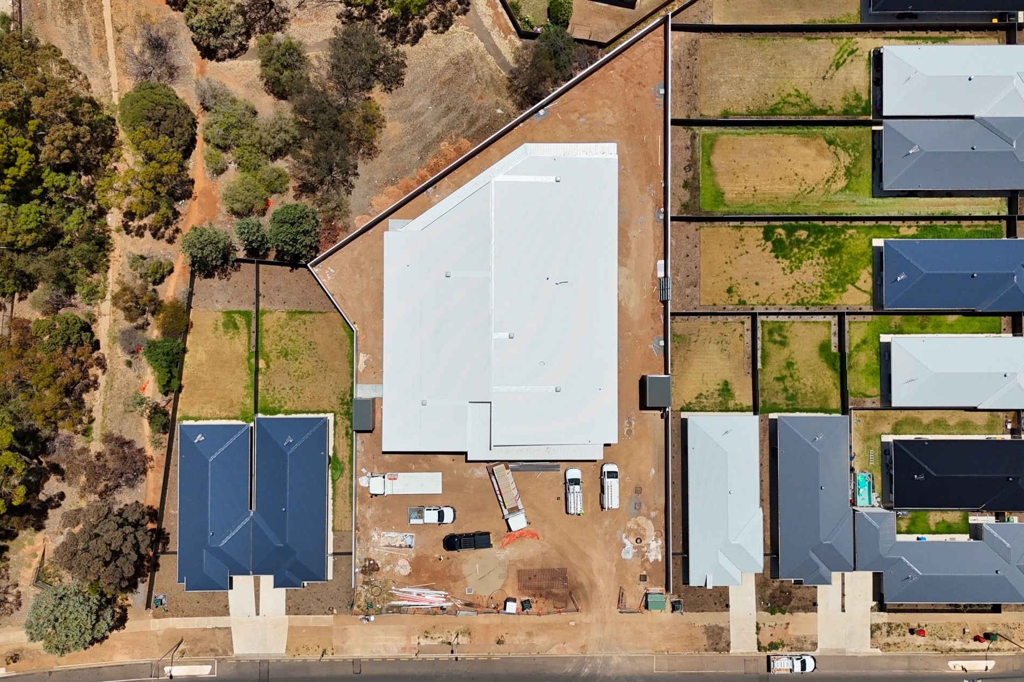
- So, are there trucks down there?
Yes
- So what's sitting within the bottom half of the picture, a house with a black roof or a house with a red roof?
house with a black roof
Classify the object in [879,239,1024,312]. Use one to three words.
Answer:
house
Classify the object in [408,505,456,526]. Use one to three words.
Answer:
truck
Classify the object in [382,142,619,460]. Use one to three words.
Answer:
building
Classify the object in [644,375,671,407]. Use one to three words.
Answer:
shed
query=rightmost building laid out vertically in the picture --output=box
[776,415,854,586]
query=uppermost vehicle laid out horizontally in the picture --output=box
[368,472,442,498]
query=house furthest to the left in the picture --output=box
[178,424,252,592]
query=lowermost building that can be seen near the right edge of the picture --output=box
[854,511,1024,604]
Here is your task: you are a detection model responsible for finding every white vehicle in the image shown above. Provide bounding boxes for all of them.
[564,466,585,517]
[766,652,816,676]
[600,463,622,514]
[486,462,530,536]
[408,505,456,526]
[368,472,442,498]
